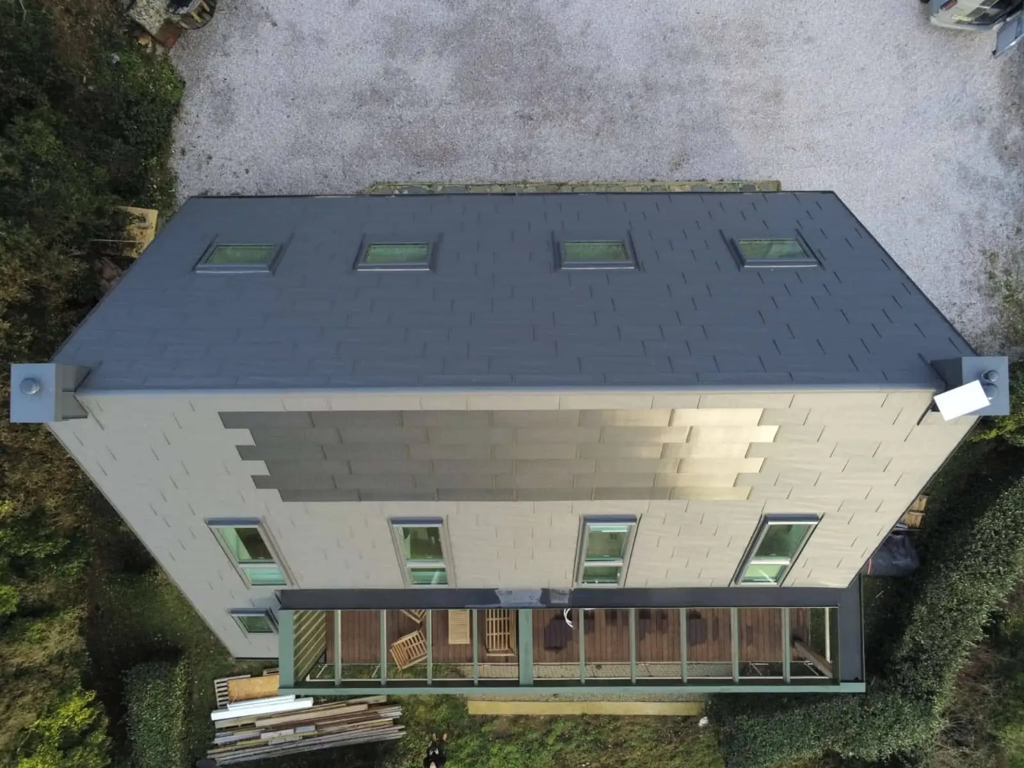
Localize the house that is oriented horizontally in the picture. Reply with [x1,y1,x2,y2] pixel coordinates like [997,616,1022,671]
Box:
[11,191,1008,660]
